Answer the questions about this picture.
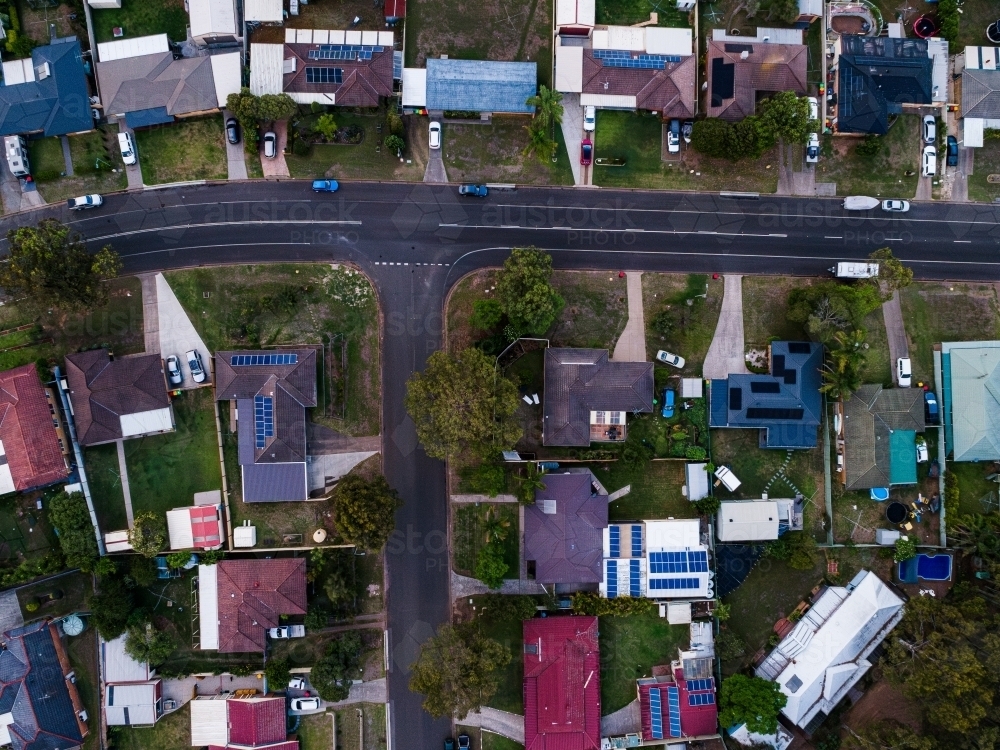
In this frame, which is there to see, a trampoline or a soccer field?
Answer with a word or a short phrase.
trampoline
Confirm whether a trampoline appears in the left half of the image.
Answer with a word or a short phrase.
No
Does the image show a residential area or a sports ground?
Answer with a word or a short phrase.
residential area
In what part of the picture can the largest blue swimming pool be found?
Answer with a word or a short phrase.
bottom right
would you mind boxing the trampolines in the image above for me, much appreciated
[885,502,907,523]
[986,18,1000,43]
[912,14,935,37]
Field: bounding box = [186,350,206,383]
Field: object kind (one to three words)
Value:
car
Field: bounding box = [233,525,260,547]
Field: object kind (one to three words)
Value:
shed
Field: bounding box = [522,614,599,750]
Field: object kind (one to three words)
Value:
house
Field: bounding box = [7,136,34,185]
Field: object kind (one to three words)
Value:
camper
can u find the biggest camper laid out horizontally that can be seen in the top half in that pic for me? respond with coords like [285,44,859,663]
[823,262,877,278]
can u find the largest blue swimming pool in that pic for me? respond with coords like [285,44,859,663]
[918,553,952,581]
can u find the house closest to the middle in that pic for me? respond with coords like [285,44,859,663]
[542,348,654,447]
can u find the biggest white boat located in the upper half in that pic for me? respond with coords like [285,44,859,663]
[840,195,881,211]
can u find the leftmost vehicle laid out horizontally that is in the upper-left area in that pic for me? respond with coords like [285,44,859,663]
[68,193,104,210]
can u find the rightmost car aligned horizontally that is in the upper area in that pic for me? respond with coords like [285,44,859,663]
[881,199,909,212]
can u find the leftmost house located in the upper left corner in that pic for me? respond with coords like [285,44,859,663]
[0,35,99,141]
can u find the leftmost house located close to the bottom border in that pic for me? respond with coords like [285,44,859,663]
[0,619,90,750]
